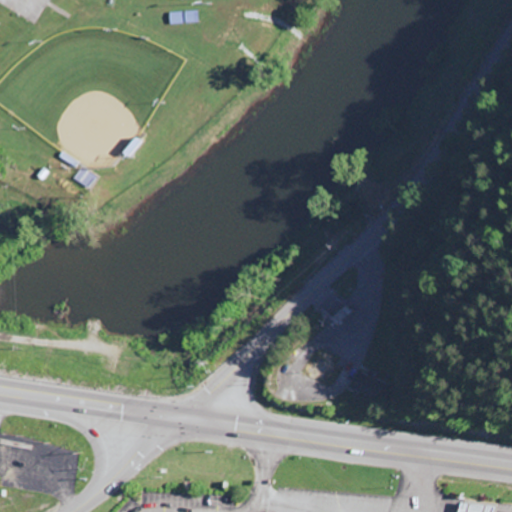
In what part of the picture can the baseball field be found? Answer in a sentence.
The baseball field is in the top left part of the image.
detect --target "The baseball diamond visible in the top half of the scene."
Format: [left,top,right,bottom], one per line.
[0,28,186,169]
